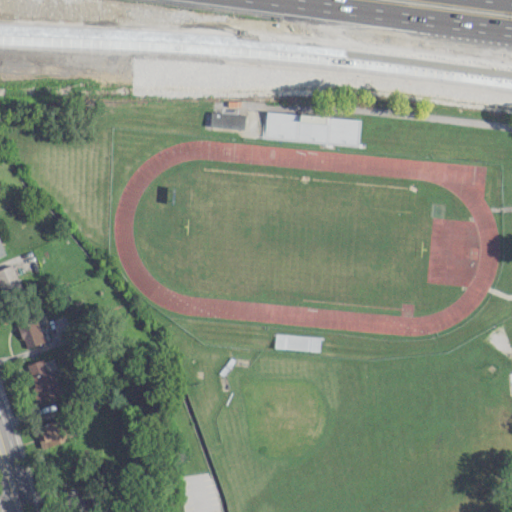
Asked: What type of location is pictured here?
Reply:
sports ground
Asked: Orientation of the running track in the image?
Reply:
from side to side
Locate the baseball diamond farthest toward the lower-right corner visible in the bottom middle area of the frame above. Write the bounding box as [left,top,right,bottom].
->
[245,376,327,457]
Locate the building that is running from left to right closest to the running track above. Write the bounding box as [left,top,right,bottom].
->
[212,113,246,130]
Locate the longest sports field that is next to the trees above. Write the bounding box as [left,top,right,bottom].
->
[133,160,476,316]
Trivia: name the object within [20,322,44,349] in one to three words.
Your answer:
house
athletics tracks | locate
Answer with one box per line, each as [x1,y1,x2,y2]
[114,142,498,335]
